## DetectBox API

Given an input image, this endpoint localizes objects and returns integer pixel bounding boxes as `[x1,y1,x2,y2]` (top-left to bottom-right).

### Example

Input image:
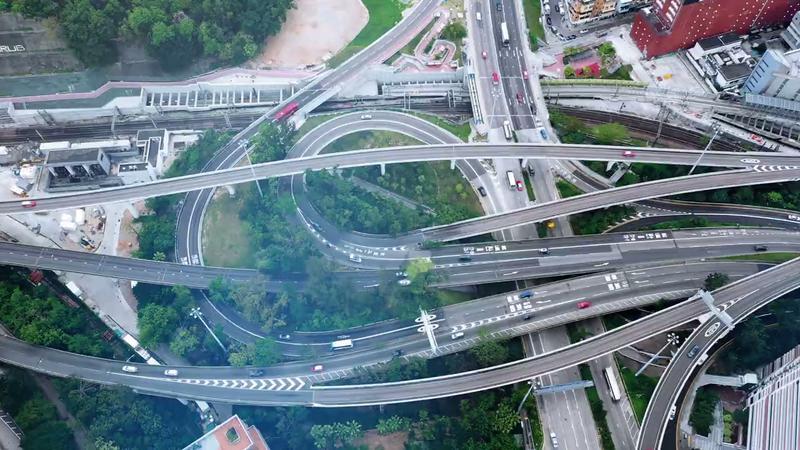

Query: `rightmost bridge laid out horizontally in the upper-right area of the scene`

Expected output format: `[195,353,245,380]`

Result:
[545,84,800,130]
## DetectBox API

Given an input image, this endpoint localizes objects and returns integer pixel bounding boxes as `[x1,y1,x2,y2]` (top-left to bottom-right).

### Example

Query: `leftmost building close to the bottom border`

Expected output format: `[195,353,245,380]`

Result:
[183,416,256,450]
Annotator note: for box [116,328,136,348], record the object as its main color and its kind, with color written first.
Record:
white vehicle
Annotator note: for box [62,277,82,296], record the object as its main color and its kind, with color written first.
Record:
white vehicle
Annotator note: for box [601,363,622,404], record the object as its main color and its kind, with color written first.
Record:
white bus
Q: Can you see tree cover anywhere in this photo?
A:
Yes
